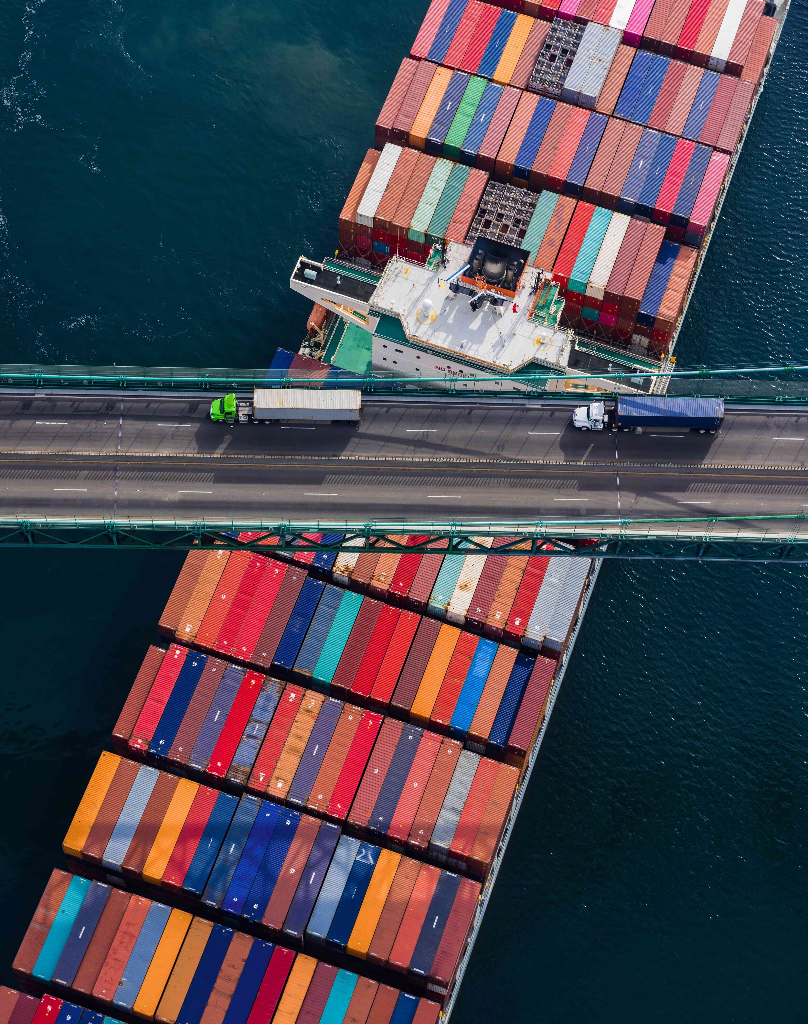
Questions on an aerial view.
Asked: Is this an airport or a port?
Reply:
port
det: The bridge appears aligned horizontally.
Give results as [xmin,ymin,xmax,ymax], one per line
[0,360,808,563]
